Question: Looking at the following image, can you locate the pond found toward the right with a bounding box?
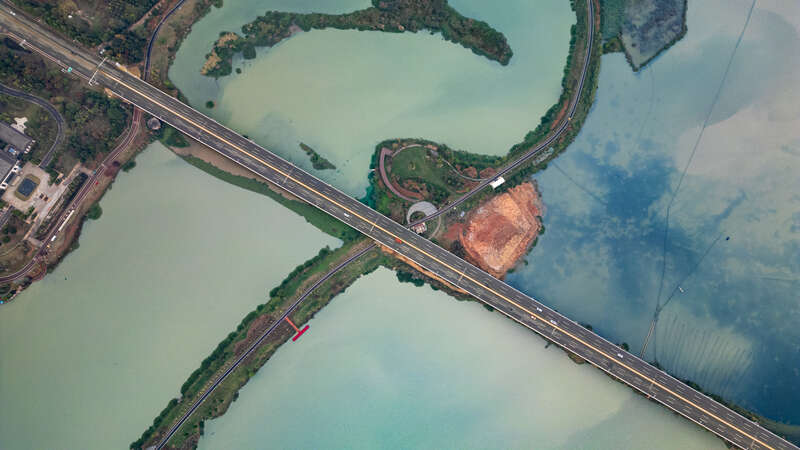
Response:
[600,0,686,68]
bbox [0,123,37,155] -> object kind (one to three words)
building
